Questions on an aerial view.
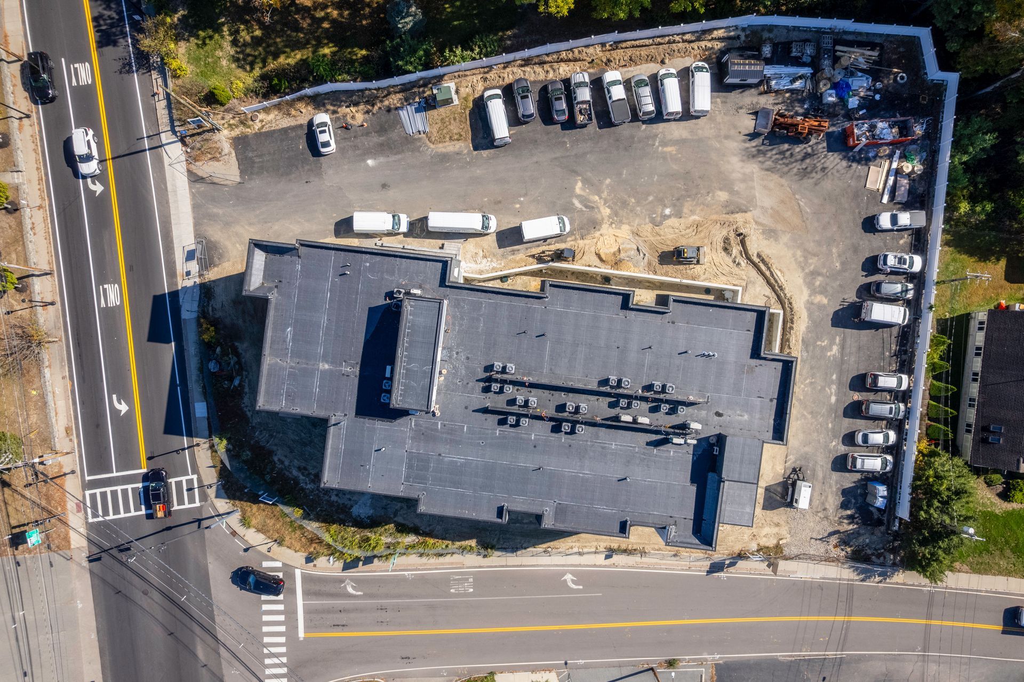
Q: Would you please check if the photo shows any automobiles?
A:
Yes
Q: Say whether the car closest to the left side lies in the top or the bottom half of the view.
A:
top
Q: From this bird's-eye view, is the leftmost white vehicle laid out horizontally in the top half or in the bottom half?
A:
top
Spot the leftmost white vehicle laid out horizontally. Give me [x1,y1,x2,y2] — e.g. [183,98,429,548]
[352,212,409,236]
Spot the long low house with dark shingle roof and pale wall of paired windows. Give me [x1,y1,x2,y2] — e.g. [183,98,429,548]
[956,308,1024,472]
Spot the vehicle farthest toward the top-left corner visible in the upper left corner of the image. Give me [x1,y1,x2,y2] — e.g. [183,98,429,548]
[27,52,60,103]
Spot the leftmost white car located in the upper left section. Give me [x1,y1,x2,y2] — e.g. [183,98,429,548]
[70,126,106,179]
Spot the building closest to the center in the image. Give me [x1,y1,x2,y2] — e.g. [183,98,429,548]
[243,212,798,552]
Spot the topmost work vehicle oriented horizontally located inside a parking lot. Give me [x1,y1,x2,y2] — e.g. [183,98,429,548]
[755,109,835,144]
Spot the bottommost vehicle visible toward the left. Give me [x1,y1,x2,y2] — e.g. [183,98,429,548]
[236,565,285,595]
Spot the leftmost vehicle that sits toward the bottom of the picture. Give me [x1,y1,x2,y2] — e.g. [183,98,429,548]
[146,465,175,521]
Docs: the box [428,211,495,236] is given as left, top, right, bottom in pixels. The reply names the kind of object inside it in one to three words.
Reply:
vehicle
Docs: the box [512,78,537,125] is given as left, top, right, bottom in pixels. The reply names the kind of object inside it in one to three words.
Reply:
car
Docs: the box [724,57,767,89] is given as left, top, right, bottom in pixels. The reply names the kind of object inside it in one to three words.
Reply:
shed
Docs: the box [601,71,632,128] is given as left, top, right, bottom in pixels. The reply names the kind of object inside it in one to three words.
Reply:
truck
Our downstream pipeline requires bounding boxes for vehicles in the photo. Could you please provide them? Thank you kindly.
[654,68,685,123]
[755,109,835,144]
[855,301,908,326]
[857,399,905,421]
[628,74,656,122]
[535,247,575,262]
[546,79,569,125]
[236,565,285,595]
[1012,606,1024,626]
[672,246,705,265]
[70,126,106,179]
[844,452,892,474]
[601,71,632,128]
[569,72,594,129]
[867,279,913,301]
[687,63,712,119]
[481,89,510,149]
[871,208,926,232]
[428,211,495,236]
[852,428,895,450]
[352,212,409,236]
[518,213,570,243]
[862,370,908,393]
[874,251,920,274]
[146,465,175,521]
[310,111,338,158]
[512,78,537,125]
[27,52,60,103]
